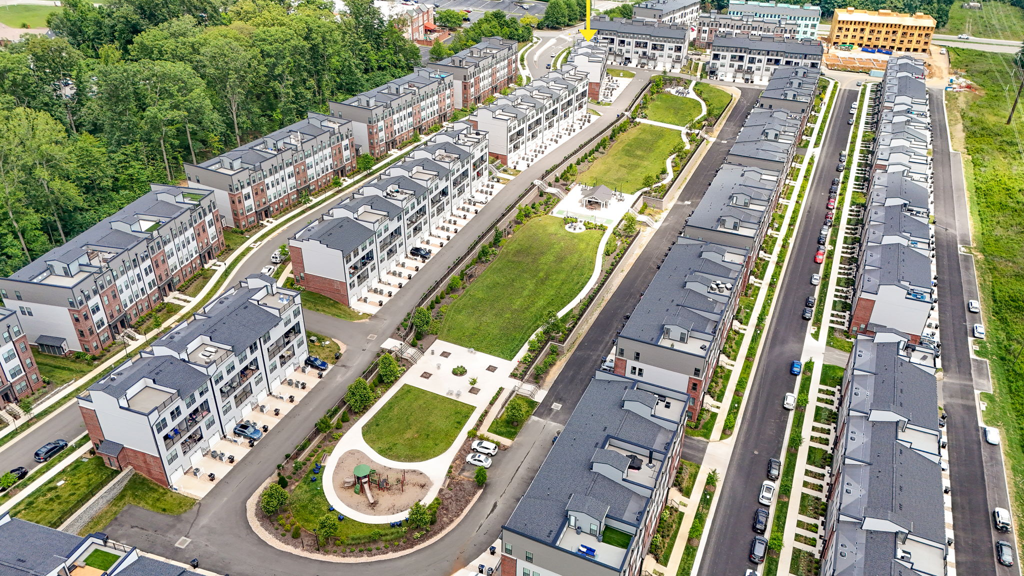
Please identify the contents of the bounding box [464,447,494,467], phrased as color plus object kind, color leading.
white car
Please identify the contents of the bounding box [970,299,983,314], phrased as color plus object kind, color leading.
white vehicle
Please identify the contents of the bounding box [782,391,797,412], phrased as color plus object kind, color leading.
white car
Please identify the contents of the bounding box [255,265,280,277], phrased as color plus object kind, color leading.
white vehicle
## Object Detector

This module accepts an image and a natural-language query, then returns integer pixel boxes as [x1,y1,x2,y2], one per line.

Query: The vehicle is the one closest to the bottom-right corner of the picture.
[999,540,1020,571]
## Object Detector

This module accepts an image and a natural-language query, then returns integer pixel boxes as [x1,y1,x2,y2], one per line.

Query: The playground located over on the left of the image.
[348,471,405,505]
